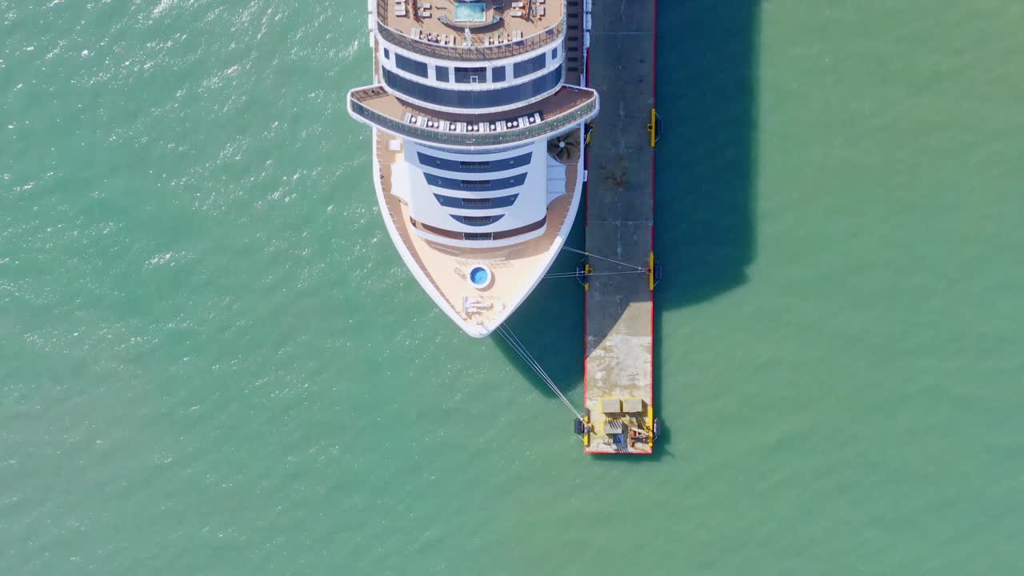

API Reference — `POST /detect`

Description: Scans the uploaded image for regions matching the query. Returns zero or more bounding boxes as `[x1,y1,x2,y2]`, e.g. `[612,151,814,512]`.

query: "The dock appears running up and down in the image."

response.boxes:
[583,0,658,454]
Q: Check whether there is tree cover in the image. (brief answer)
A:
No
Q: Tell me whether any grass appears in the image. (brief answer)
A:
No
